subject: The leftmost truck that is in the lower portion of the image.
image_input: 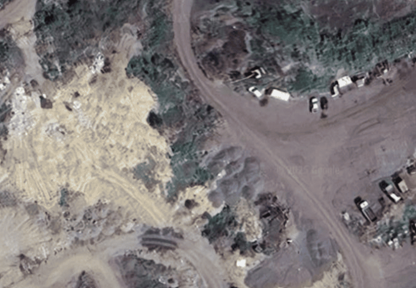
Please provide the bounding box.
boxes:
[357,199,378,227]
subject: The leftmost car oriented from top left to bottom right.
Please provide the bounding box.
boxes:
[247,86,264,100]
